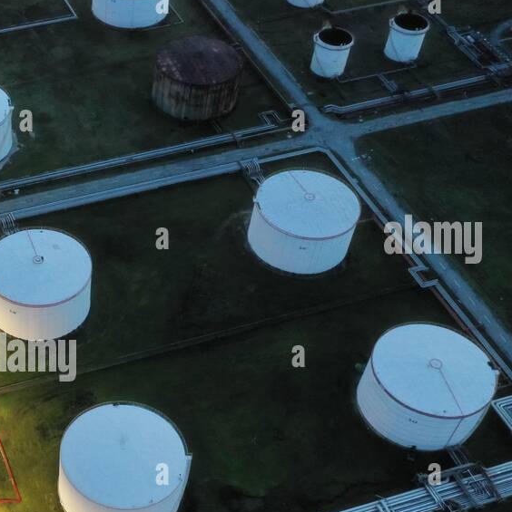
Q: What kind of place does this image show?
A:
industrial area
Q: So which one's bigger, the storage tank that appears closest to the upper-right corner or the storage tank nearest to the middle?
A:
the storage tank nearest to the middle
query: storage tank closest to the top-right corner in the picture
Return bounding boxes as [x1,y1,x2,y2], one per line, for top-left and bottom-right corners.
[379,9,431,64]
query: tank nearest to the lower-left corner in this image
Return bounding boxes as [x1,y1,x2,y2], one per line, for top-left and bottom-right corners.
[55,398,196,512]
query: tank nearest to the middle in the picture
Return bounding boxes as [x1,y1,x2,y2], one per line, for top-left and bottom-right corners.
[246,166,362,276]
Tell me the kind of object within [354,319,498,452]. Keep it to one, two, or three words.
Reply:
storage tank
